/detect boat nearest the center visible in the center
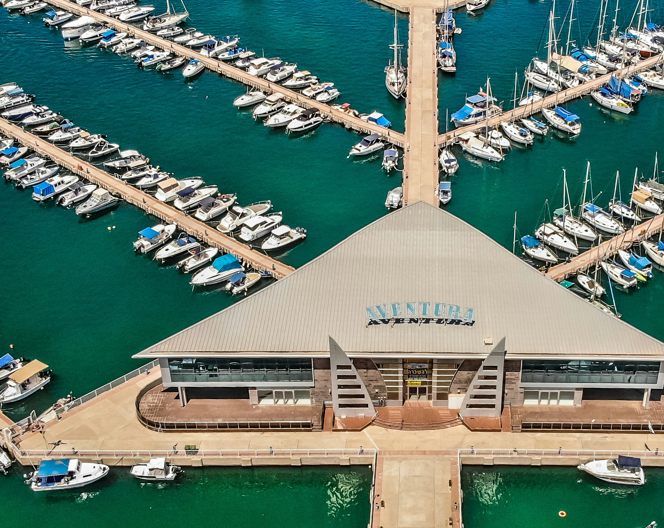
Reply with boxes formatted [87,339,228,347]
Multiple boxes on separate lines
[261,229,311,253]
